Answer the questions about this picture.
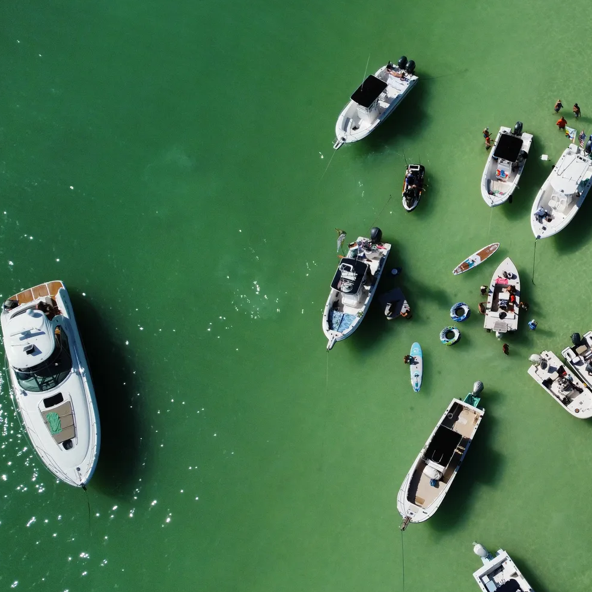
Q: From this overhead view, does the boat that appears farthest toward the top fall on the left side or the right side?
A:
right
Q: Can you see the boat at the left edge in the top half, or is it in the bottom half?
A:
bottom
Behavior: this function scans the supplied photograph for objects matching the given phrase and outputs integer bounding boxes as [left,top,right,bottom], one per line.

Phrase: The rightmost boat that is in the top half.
[530,136,592,282]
